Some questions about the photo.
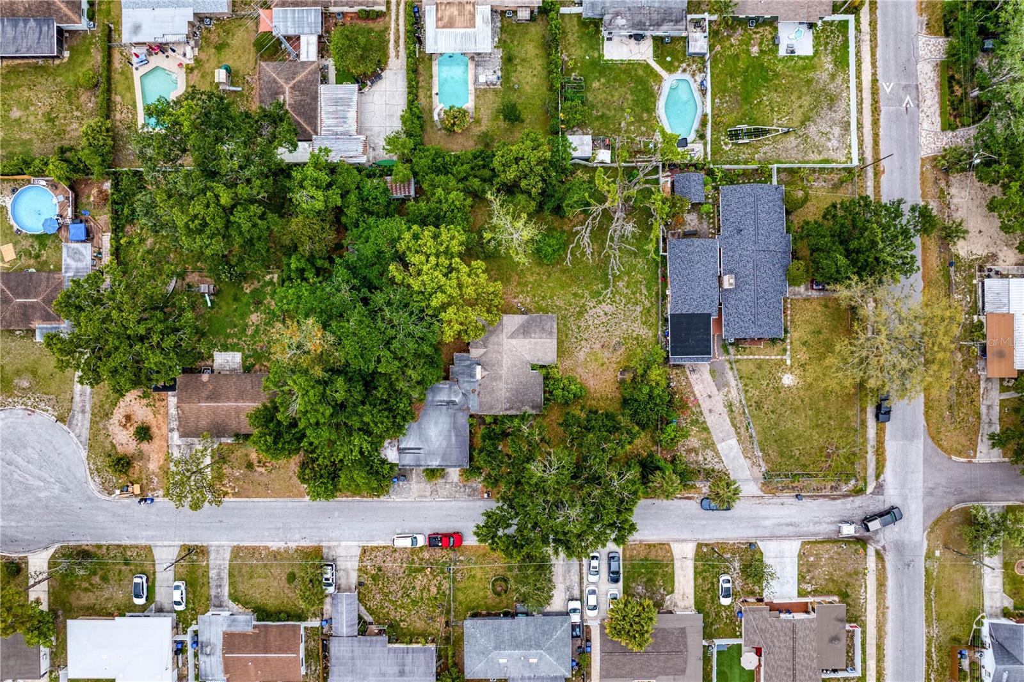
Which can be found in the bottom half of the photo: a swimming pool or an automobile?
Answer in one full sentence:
Looking in the bottom half of the photo, you will find an automobile.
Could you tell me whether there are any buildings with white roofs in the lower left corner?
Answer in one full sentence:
Yes, I can see a building with a white roof in the lower left corner.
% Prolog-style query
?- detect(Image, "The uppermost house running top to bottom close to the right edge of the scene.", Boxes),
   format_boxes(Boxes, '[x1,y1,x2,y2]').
[975,266,1024,378]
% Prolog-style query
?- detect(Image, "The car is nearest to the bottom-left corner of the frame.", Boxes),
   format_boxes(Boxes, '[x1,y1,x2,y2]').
[131,573,149,604]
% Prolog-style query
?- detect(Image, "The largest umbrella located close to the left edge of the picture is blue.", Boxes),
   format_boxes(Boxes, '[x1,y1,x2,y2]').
[42,217,61,234]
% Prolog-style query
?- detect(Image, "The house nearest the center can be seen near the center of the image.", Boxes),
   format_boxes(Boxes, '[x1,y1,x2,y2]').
[450,304,556,413]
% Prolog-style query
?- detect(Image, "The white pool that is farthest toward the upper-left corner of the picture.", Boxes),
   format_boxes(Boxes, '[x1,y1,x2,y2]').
[132,45,193,132]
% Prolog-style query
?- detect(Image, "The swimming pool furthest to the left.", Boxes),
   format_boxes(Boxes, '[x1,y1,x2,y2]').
[8,184,58,234]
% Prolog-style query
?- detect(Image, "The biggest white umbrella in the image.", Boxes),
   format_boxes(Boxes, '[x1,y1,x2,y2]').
[741,653,758,670]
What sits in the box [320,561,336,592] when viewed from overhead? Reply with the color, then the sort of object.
white car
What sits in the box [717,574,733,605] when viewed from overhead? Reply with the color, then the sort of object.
white car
